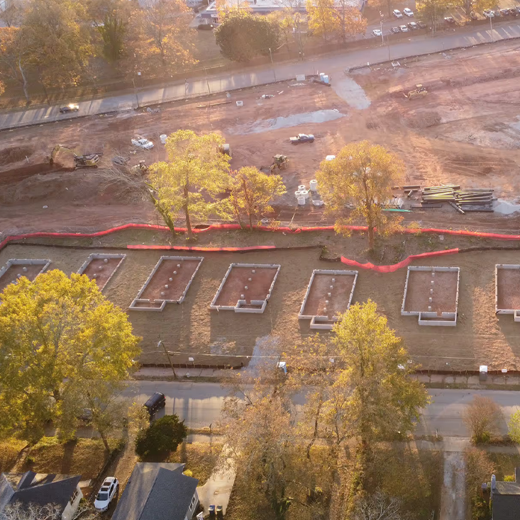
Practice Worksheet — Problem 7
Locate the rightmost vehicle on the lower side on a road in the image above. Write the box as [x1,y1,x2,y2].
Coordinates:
[131,389,164,419]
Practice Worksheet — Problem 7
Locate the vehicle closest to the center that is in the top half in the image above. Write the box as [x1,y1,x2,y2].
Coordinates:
[259,153,296,176]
